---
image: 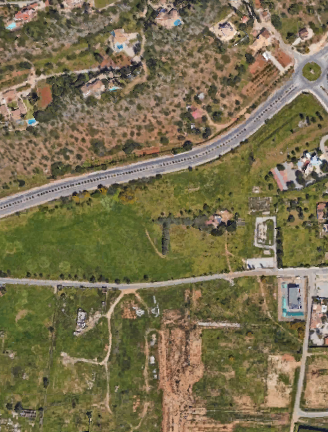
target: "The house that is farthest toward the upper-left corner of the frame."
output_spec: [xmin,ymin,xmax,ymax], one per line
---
[8,4,41,25]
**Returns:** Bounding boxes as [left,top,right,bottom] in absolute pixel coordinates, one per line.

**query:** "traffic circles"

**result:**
[295,55,327,87]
